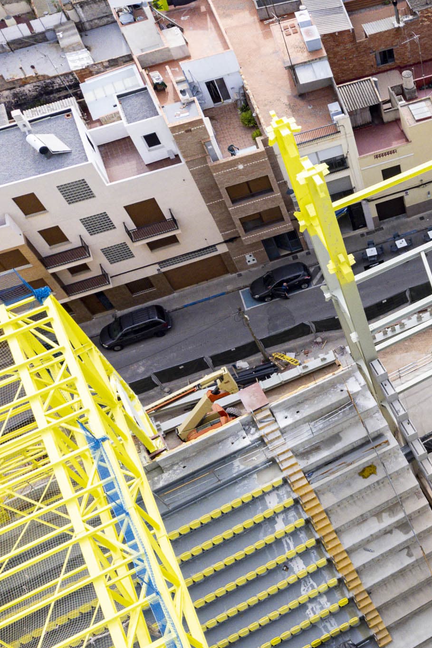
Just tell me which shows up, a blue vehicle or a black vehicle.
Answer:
black vehicle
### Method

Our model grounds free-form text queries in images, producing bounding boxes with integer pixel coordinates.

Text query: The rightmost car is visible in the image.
[245,258,317,304]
